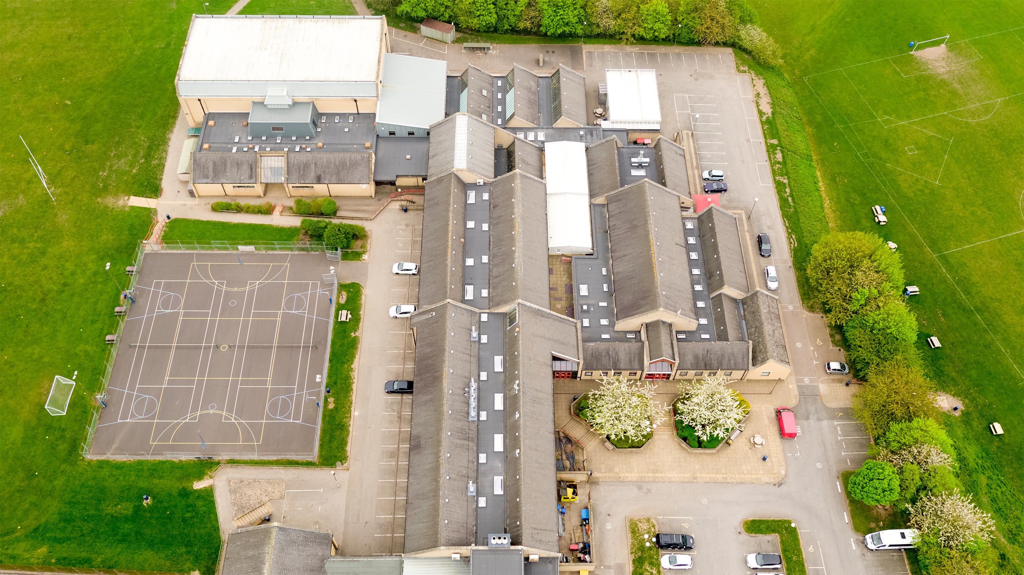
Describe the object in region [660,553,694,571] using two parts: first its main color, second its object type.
white car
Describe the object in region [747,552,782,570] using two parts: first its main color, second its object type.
white car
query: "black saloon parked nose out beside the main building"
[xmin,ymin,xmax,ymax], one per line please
[385,379,413,396]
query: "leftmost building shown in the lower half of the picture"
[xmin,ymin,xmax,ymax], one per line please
[221,524,339,575]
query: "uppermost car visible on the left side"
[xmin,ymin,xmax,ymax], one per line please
[392,262,419,277]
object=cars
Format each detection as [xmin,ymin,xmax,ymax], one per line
[764,264,779,291]
[660,553,694,571]
[747,552,782,570]
[702,170,725,182]
[389,304,416,319]
[654,533,695,552]
[755,570,787,575]
[824,361,849,375]
[392,262,419,277]
[385,379,413,396]
[757,232,772,257]
[703,181,728,193]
